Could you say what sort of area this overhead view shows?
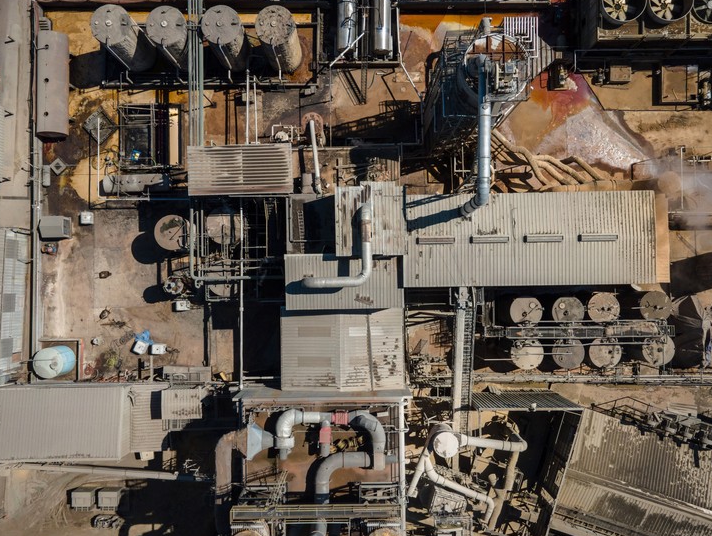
industrial area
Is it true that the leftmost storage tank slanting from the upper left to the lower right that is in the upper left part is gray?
Yes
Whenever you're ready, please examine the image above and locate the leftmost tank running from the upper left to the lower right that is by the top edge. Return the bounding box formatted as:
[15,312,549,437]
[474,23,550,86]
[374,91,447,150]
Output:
[90,2,179,77]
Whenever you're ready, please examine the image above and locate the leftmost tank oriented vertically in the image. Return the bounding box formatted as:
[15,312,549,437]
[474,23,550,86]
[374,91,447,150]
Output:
[37,27,78,134]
